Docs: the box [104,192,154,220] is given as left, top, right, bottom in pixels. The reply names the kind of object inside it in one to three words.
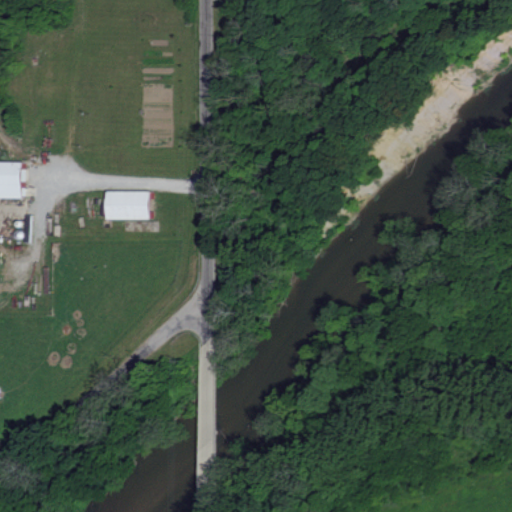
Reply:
barn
